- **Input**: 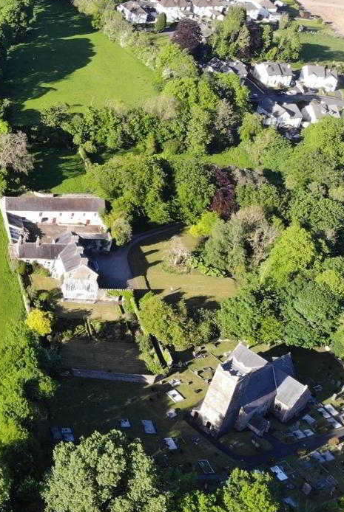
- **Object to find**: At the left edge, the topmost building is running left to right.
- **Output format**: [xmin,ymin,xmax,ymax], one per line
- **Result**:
[2,196,113,225]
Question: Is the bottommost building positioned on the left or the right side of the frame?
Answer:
right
